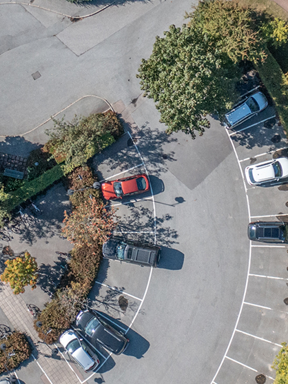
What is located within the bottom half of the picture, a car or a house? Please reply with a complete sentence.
There is a car within the bottom half of the picture.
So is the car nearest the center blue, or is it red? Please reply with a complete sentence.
From above, the car nearest the center appears red.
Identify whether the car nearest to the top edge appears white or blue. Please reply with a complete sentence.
The car nearest to the top edge is blue.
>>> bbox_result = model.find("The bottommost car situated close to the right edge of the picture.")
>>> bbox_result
[247,221,288,246]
